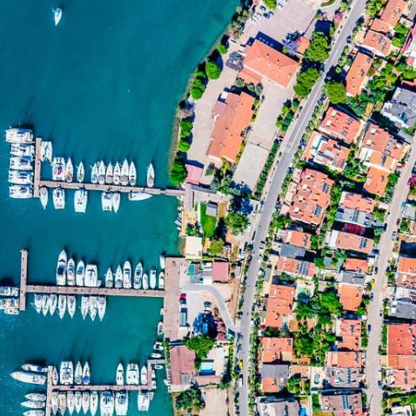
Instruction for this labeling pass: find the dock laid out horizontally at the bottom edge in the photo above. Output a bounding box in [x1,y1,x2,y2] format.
[46,359,168,416]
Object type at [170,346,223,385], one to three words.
building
